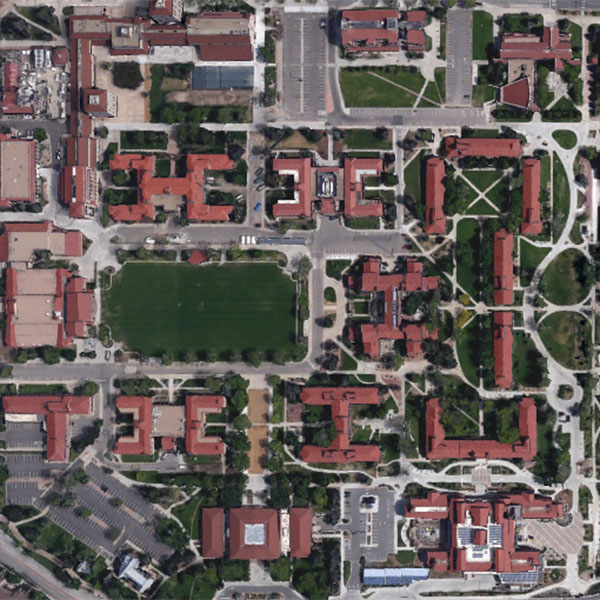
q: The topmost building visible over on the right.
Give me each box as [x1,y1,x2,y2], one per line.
[342,10,426,53]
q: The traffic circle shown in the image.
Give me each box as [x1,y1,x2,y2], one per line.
[546,366,584,415]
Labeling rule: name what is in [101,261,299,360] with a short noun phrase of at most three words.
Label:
sports field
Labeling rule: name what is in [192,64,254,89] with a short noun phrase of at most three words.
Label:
sports court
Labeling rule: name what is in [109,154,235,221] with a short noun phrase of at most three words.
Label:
building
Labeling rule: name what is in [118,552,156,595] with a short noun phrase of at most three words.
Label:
house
